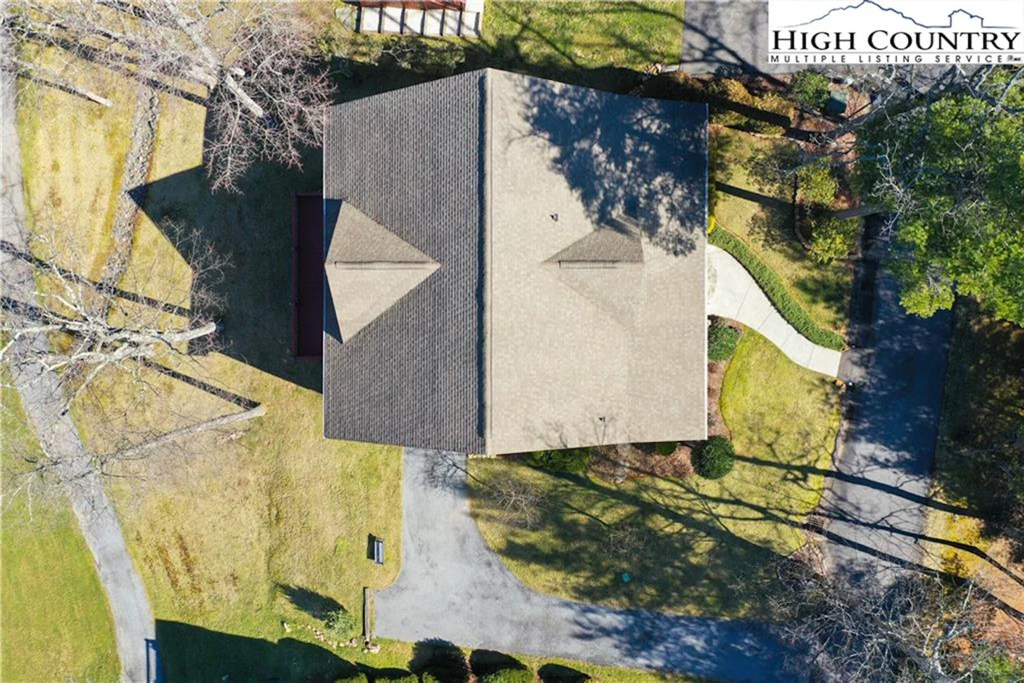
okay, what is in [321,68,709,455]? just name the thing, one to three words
house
